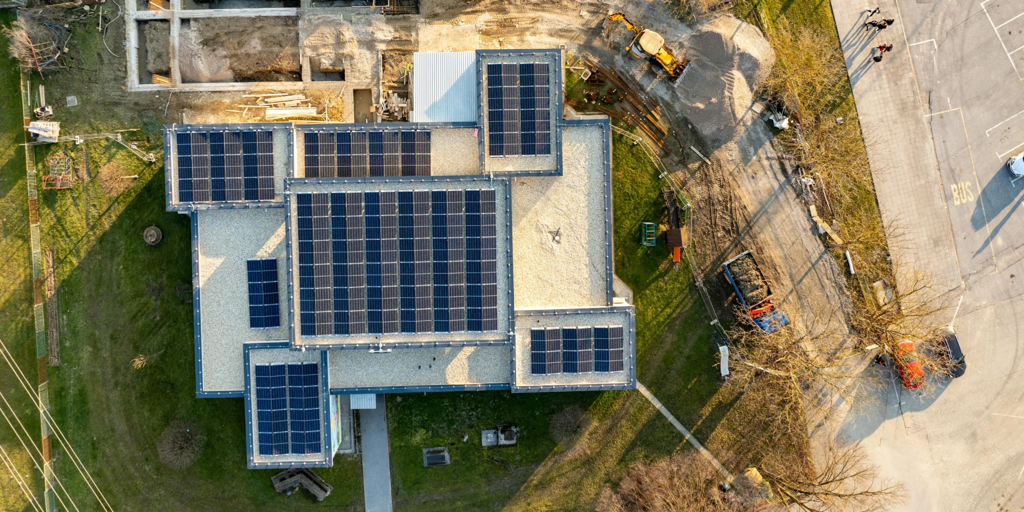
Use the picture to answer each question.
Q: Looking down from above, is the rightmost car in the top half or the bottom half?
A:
top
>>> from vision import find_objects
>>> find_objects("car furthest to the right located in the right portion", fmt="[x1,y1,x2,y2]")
[1002,147,1024,177]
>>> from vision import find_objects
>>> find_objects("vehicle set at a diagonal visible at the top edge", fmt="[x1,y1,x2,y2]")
[598,9,691,92]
